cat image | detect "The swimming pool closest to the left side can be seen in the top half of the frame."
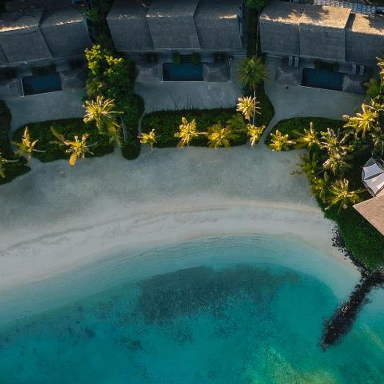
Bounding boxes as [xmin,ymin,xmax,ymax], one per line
[22,71,62,96]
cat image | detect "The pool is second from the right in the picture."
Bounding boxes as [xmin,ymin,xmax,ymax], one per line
[162,62,203,81]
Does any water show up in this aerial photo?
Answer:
Yes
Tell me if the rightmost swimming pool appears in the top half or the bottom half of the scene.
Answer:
top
